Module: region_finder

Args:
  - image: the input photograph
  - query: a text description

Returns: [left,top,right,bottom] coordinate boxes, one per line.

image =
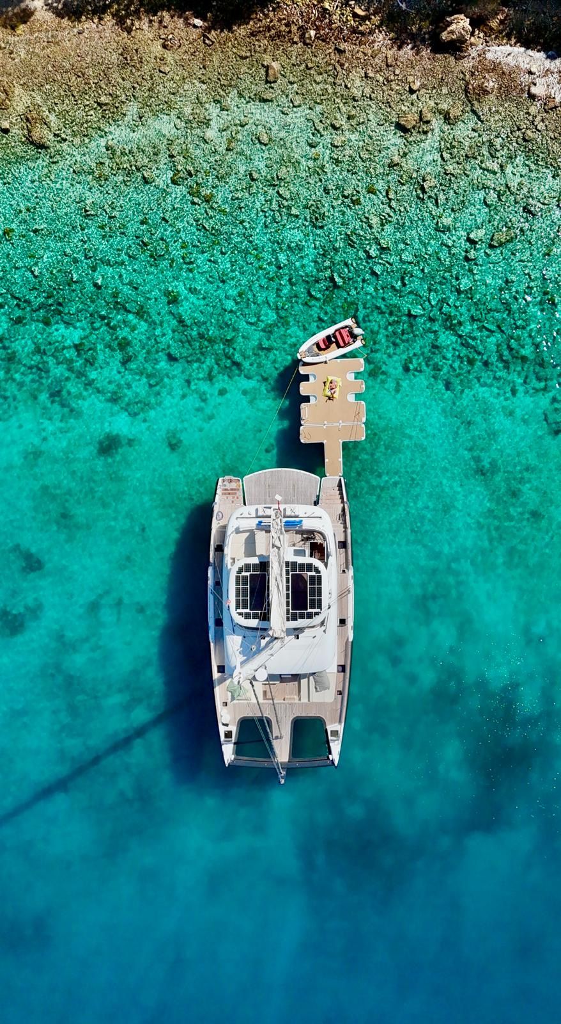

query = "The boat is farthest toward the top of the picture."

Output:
[295,319,366,363]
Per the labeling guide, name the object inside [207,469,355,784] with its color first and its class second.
white boat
